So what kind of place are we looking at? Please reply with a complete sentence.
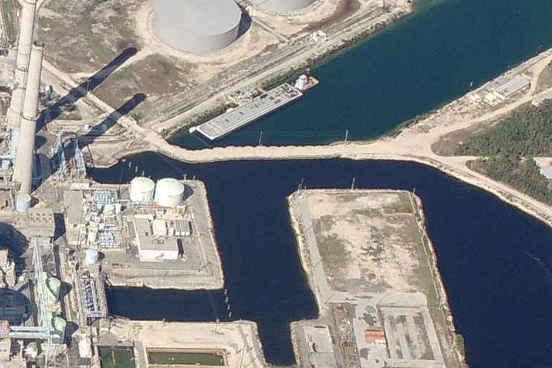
What you see here is a port.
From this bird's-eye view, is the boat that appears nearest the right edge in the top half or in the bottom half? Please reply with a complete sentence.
You can find the boat that appears nearest the right edge in the top half.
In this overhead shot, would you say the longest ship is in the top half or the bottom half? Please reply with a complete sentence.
The longest ship is in the top half of the image.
